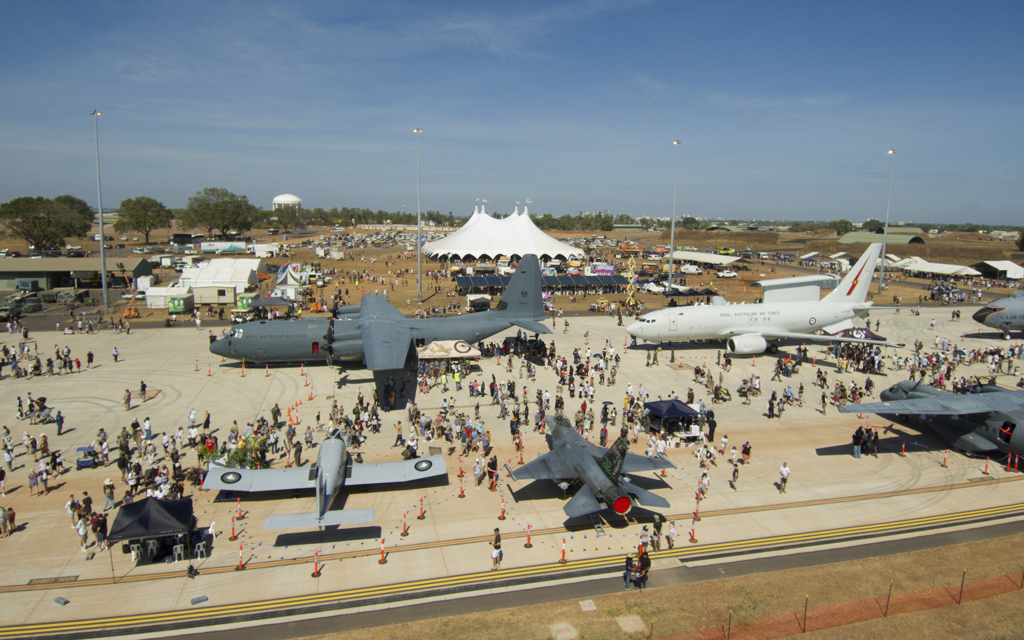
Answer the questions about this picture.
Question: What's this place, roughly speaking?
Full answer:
The picture captures an airport.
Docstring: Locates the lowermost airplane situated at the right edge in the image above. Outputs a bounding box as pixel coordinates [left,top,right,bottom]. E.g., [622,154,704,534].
[825,363,1024,459]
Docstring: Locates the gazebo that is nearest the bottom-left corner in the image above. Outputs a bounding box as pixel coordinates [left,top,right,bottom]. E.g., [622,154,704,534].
[108,497,201,585]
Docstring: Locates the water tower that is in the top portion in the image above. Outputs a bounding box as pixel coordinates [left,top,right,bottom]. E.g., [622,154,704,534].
[271,194,301,212]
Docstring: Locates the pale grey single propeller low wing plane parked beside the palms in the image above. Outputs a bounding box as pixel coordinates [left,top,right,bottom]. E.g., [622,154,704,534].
[201,412,446,530]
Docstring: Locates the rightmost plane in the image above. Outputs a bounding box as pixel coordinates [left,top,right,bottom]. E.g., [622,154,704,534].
[971,286,1024,339]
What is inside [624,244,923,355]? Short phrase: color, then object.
white airplane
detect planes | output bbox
[210,255,562,377]
[971,286,1024,339]
[825,363,1024,459]
[201,412,446,530]
[624,244,923,355]
[503,410,679,526]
